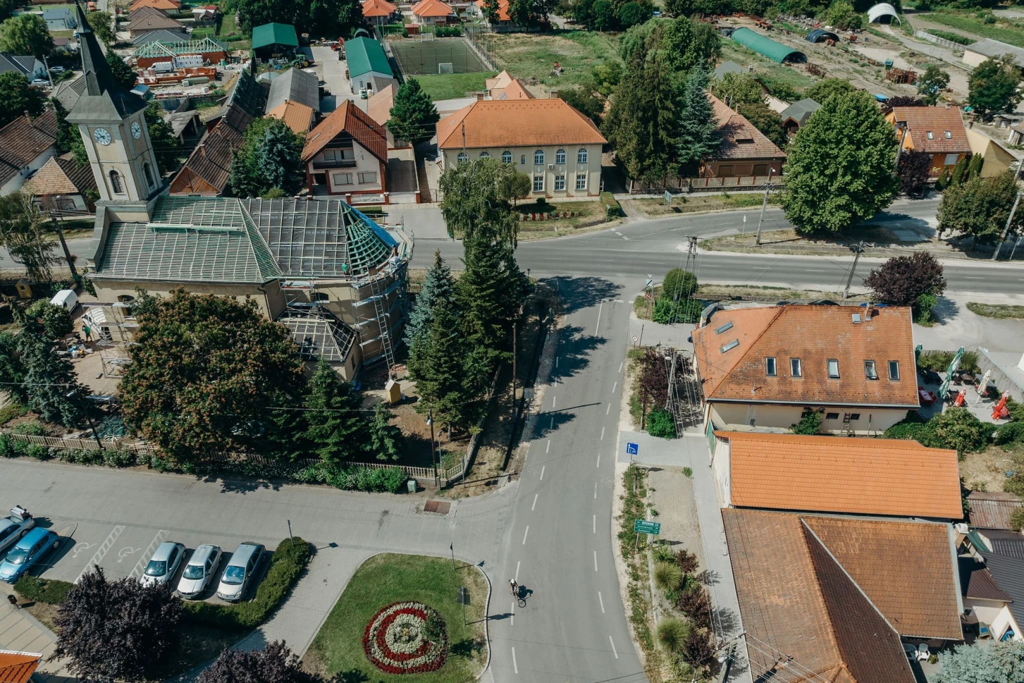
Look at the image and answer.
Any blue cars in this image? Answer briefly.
Yes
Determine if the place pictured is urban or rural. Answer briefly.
urban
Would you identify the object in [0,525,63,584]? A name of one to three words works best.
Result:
car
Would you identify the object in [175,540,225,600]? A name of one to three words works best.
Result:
car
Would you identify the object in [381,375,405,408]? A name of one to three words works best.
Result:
shed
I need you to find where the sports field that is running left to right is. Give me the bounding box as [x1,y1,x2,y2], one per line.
[387,39,493,75]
